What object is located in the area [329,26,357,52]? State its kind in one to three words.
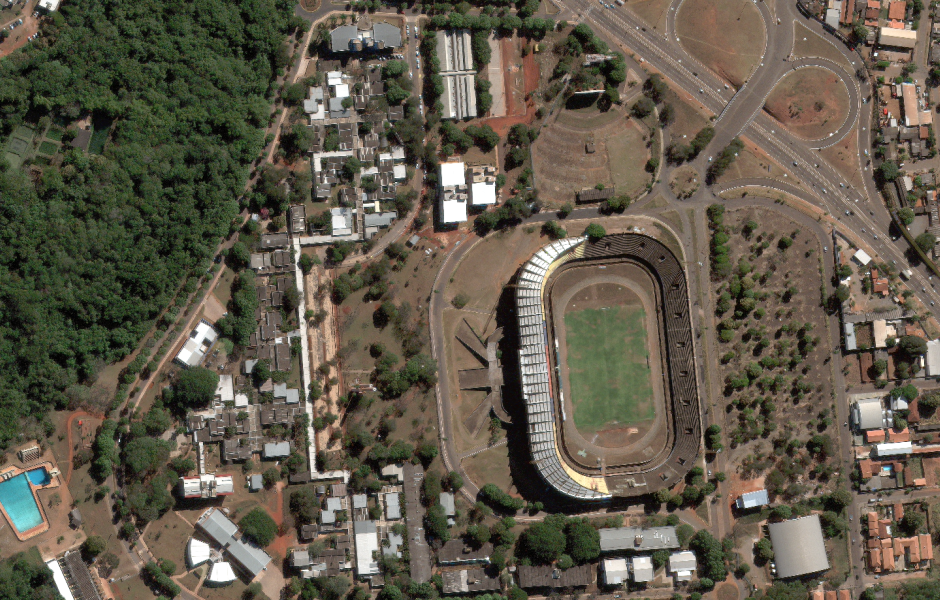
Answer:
building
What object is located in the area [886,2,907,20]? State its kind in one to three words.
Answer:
house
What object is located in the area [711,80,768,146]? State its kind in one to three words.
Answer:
overpass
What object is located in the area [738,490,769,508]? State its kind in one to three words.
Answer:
shed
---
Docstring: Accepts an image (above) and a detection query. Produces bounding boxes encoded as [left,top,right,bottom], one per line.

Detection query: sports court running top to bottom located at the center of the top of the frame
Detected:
[487,39,506,118]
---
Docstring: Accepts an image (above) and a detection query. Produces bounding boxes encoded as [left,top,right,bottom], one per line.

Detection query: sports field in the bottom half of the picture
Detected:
[551,264,666,467]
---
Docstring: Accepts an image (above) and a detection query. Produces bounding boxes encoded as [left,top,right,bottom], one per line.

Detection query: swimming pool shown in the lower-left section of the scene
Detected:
[0,461,61,540]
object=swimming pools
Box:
[0,461,61,540]
[881,464,895,475]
